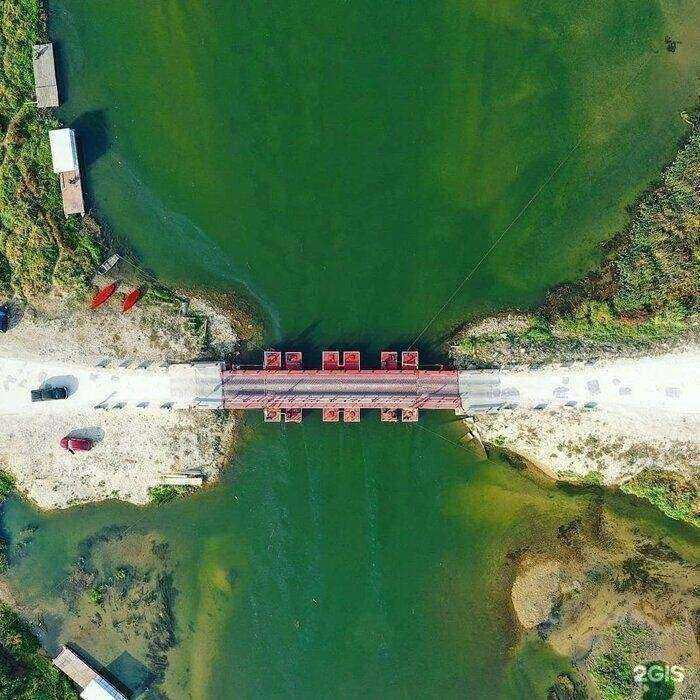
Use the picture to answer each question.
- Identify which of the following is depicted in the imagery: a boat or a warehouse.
boat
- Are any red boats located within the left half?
Yes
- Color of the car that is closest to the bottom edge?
red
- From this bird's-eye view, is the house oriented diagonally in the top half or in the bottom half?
bottom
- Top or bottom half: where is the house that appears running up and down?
top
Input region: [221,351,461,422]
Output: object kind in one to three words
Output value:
bridge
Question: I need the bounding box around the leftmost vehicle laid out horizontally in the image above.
[28,386,68,401]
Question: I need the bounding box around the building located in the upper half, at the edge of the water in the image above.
[50,122,86,218]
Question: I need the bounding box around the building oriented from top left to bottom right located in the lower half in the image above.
[50,641,120,700]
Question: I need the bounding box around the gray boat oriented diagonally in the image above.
[96,252,118,275]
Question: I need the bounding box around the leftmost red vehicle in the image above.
[59,435,93,457]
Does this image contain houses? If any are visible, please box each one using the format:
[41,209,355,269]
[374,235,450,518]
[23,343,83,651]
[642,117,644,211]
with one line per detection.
[50,641,120,700]
[50,122,86,218]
